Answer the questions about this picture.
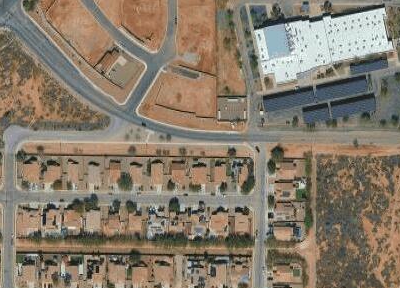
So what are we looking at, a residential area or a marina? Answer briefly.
residential area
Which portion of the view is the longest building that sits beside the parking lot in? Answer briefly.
top right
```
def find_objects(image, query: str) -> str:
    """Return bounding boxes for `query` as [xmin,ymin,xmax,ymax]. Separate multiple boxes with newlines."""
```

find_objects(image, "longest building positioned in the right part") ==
[254,8,395,84]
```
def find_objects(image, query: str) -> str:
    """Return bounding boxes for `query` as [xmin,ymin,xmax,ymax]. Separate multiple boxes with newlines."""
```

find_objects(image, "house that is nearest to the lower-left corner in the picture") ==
[20,261,38,286]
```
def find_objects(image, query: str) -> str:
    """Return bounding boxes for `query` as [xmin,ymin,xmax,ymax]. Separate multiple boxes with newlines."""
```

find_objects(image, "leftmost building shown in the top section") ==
[97,50,124,74]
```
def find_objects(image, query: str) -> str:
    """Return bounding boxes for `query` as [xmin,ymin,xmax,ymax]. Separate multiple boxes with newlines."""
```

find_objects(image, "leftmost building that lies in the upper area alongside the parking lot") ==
[218,97,248,121]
